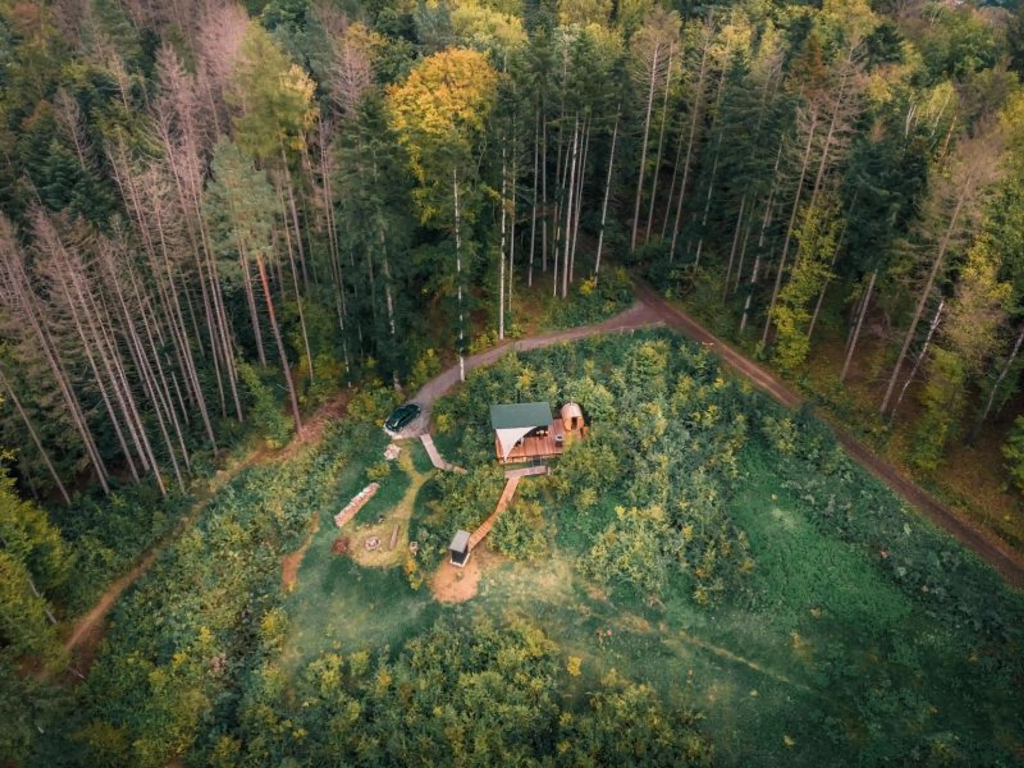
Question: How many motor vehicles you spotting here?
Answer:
1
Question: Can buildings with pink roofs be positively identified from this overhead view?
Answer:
No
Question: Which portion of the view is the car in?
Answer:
center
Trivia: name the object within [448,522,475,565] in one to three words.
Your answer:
shed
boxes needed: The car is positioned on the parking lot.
[382,401,426,432]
